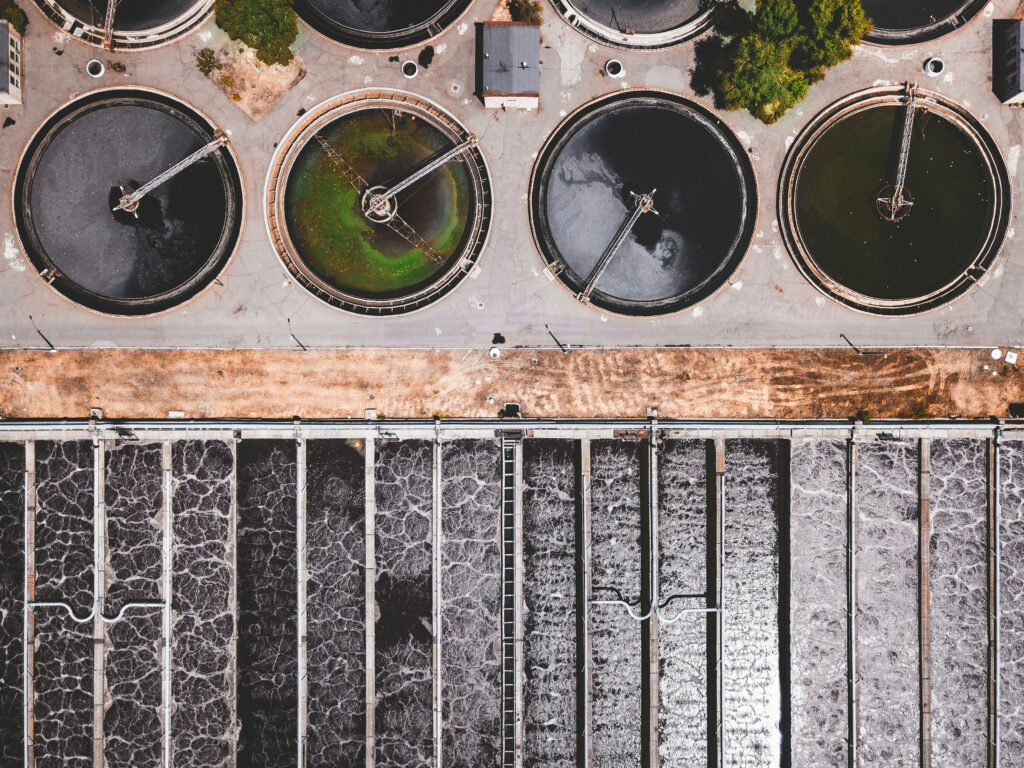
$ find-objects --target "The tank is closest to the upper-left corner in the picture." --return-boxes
[28,0,219,53]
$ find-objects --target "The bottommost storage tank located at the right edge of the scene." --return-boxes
[777,83,1013,319]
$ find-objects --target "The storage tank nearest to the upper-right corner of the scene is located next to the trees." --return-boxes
[846,0,990,49]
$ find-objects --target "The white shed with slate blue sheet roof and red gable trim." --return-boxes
[483,23,540,107]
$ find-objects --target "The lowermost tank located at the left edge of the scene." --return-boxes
[11,85,245,319]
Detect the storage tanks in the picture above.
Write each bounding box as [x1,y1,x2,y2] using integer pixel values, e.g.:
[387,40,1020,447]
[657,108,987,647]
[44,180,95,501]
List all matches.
[263,86,494,317]
[28,0,219,53]
[546,0,736,52]
[777,83,1013,319]
[291,0,477,52]
[846,0,990,49]
[526,85,760,319]
[11,85,245,319]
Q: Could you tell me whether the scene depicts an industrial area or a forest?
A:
industrial area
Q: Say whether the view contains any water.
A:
Yes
